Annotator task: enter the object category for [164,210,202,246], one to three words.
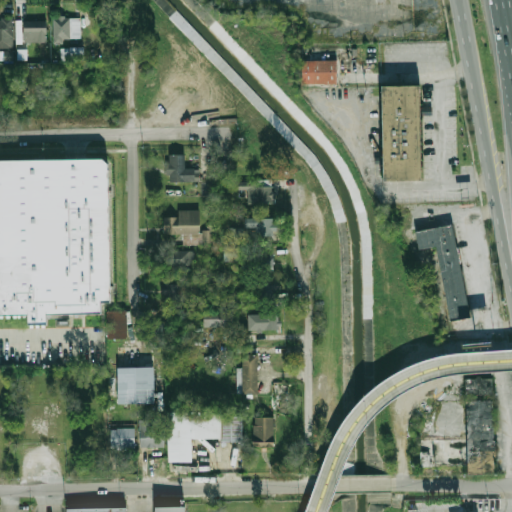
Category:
house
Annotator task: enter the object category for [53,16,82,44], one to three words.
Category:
house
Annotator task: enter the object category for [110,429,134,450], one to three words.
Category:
shed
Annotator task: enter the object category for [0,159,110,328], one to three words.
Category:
building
